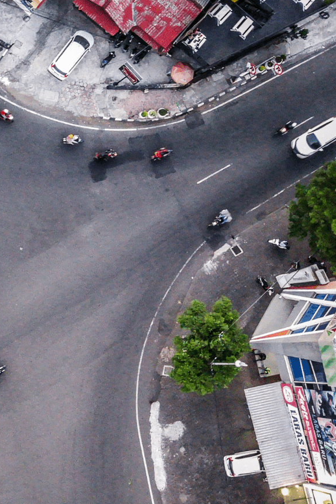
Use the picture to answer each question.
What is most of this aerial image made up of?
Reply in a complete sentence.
The scene is dominated by paved ground.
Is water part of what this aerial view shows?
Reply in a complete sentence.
No, there is no water in the image.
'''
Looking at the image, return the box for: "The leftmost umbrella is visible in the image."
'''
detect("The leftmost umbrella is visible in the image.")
[170,64,192,85]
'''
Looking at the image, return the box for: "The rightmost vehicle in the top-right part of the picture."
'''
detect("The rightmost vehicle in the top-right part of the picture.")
[287,111,336,158]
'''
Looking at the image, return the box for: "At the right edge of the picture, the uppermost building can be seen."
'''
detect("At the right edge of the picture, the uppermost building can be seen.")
[249,279,336,385]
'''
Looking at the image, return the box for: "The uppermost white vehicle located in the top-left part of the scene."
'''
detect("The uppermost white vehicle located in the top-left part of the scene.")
[48,30,92,82]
